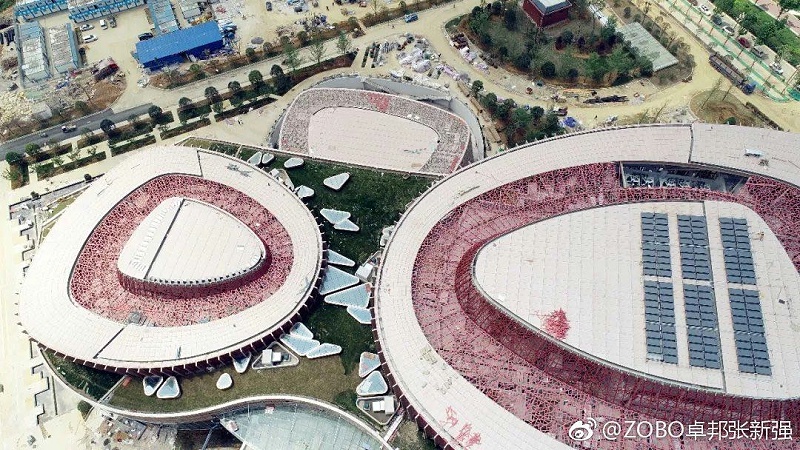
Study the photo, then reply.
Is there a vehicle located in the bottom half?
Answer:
No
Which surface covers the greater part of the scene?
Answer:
buildings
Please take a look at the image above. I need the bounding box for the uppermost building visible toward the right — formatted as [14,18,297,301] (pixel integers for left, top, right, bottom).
[515,0,576,29]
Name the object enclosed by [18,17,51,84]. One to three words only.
shed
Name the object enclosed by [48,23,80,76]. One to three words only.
shed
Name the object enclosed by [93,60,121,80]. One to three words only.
vehicle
